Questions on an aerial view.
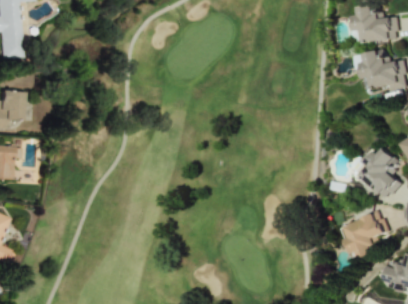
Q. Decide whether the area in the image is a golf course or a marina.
golf course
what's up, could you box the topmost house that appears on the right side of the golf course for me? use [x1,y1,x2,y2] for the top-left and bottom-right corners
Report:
[348,4,400,43]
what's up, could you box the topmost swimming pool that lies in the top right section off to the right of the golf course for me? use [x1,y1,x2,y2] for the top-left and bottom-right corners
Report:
[337,22,350,42]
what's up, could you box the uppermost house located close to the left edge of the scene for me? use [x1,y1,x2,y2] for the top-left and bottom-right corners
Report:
[0,0,36,58]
